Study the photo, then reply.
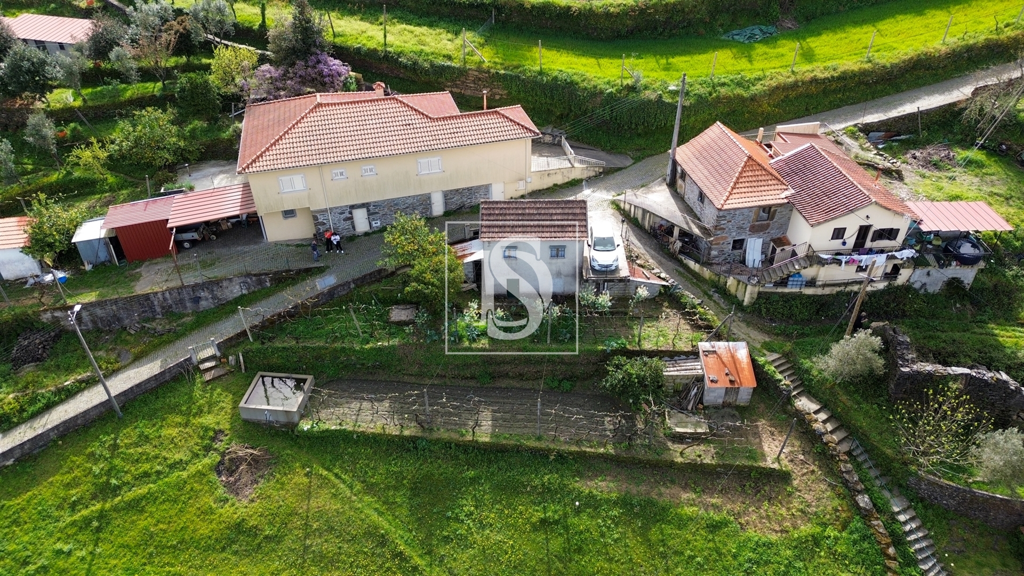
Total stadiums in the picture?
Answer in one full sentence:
There are no stadiums in the image.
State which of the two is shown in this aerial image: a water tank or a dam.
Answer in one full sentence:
Of the two, only a water tank appears.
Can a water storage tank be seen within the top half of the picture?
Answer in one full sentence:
No, no water storage tank is visible within the top half of the picture.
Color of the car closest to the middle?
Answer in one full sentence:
The car closest to the middle looks white in the image.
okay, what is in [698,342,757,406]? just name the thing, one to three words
shed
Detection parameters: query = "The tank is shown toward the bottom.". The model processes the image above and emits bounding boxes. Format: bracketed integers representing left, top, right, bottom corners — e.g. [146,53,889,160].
[238,372,315,422]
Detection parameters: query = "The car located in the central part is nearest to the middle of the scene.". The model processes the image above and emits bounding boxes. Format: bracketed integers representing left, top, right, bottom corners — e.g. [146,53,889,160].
[587,223,622,271]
